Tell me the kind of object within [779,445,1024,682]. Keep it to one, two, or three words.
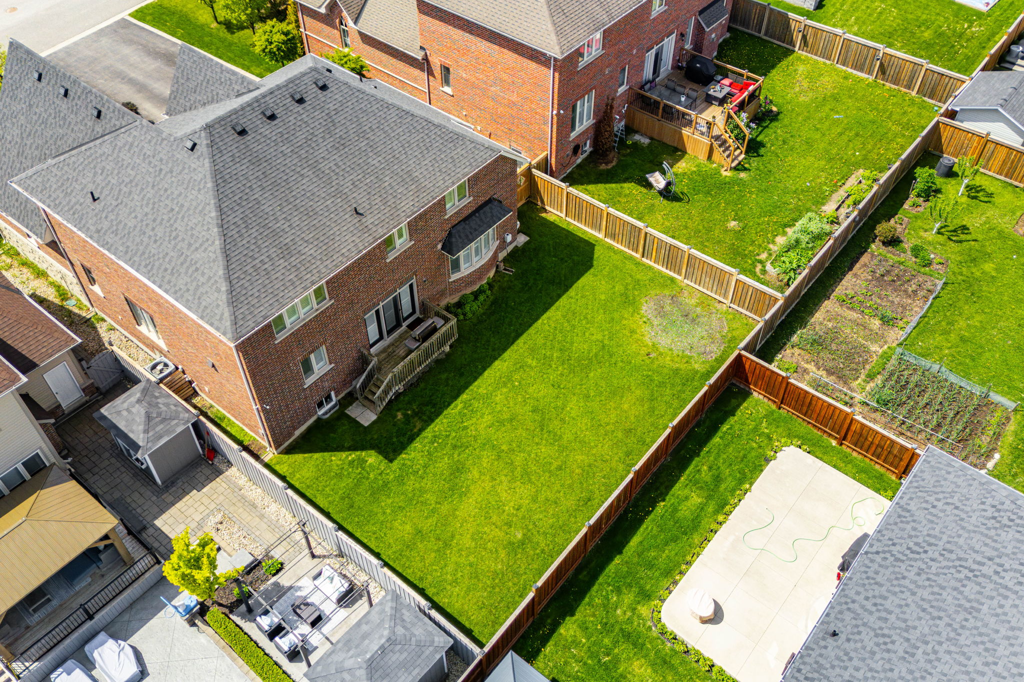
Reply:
house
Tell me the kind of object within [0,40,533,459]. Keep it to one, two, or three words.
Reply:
house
